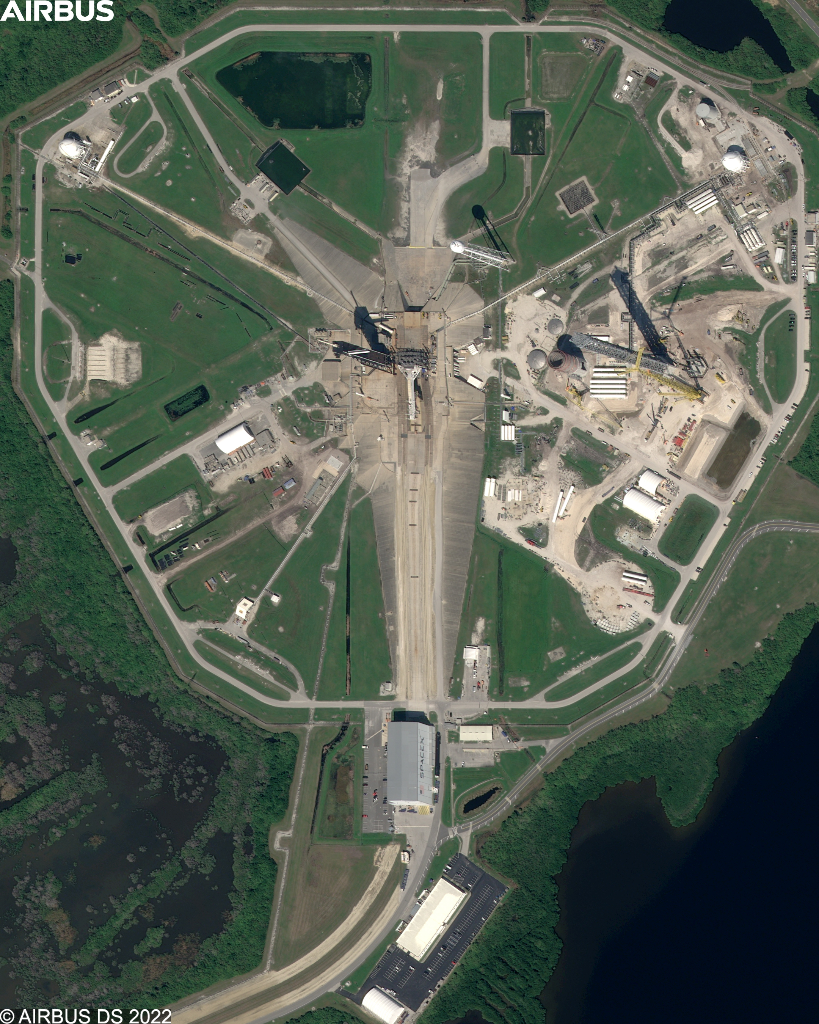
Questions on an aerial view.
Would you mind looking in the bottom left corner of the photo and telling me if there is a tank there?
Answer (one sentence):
No, there is no tank in the bottom left corner of the photo.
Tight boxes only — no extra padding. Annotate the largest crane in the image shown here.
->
[617,343,710,406]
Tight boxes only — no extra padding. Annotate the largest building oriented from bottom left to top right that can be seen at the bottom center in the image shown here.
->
[396,878,470,960]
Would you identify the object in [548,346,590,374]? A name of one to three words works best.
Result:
storage tank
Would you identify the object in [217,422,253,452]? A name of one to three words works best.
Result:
building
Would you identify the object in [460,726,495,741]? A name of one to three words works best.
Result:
building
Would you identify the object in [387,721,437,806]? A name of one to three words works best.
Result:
hangar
